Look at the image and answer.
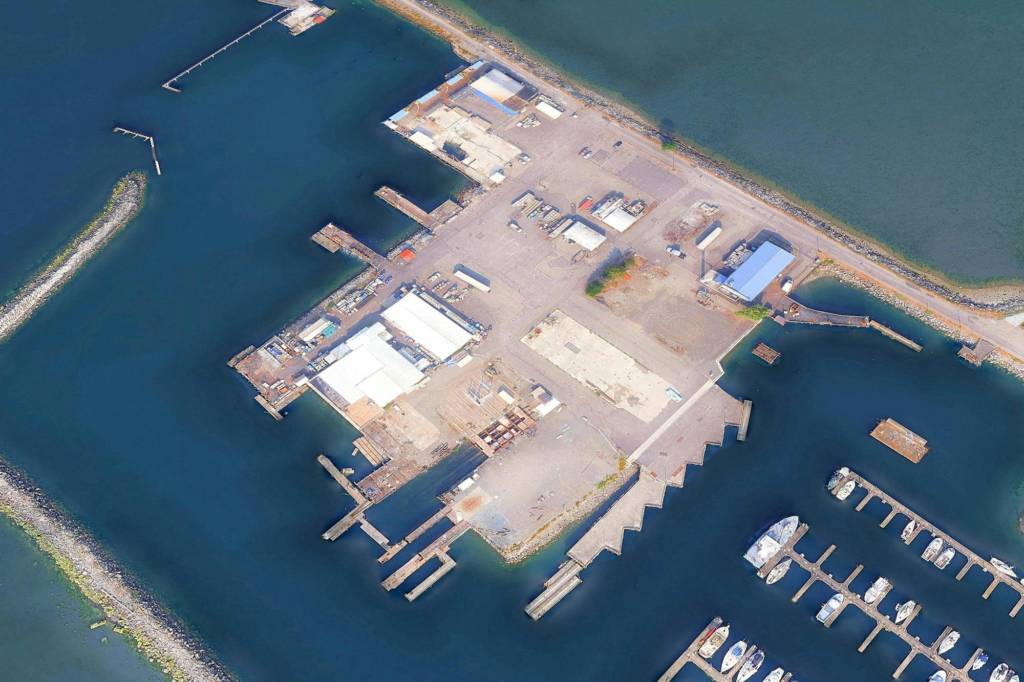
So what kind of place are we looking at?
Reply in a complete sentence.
It's a port.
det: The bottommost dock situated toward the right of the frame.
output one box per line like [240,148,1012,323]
[661,618,757,682]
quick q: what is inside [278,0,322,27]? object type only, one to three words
pier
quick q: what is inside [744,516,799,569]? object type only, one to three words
boat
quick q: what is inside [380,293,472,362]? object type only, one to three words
building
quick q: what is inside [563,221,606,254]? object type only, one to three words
shed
